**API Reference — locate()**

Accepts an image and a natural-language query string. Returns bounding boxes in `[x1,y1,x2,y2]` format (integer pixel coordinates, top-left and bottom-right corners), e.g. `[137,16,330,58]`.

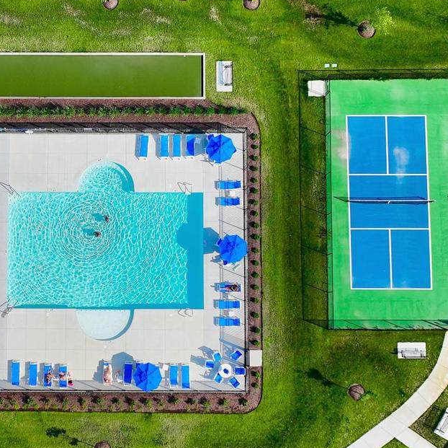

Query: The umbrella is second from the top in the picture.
[215,233,246,265]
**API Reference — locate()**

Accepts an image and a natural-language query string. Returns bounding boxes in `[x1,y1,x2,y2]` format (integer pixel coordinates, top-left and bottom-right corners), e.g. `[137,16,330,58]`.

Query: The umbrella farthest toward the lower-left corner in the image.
[133,362,162,391]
